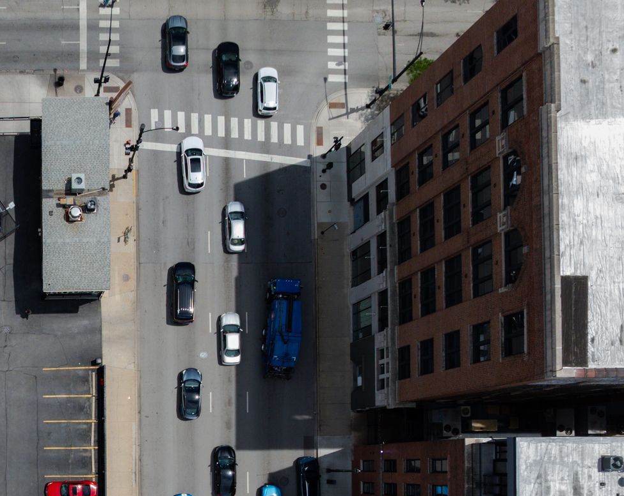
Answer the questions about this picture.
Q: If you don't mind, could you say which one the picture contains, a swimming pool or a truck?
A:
truck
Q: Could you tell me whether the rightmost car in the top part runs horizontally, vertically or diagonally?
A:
vertically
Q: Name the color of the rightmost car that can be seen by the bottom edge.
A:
black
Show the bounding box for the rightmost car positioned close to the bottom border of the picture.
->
[294,456,323,496]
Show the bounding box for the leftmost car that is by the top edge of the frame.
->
[163,17,190,72]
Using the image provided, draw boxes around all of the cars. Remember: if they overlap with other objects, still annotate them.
[180,138,206,193]
[163,17,190,72]
[170,265,198,322]
[258,484,281,496]
[253,68,280,119]
[222,204,247,254]
[44,480,97,496]
[294,456,323,496]
[211,444,238,496]
[178,369,203,421]
[216,313,242,365]
[214,43,241,98]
